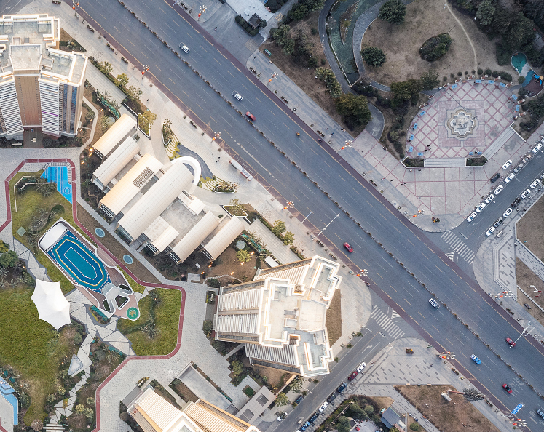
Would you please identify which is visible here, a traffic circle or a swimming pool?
swimming pool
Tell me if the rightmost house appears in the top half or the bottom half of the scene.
bottom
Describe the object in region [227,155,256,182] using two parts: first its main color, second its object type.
white bus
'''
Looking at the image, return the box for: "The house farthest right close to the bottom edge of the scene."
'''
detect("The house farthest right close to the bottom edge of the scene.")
[379,406,406,429]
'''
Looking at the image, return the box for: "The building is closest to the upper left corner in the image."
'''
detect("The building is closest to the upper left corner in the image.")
[0,13,89,139]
